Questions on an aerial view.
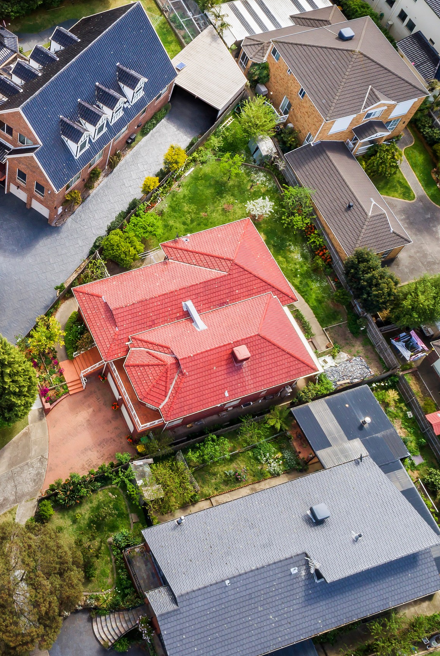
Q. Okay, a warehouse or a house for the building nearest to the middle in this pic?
house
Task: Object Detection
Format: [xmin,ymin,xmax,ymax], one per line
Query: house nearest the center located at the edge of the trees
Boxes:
[59,216,323,438]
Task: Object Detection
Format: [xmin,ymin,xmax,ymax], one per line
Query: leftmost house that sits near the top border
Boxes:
[0,3,180,213]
